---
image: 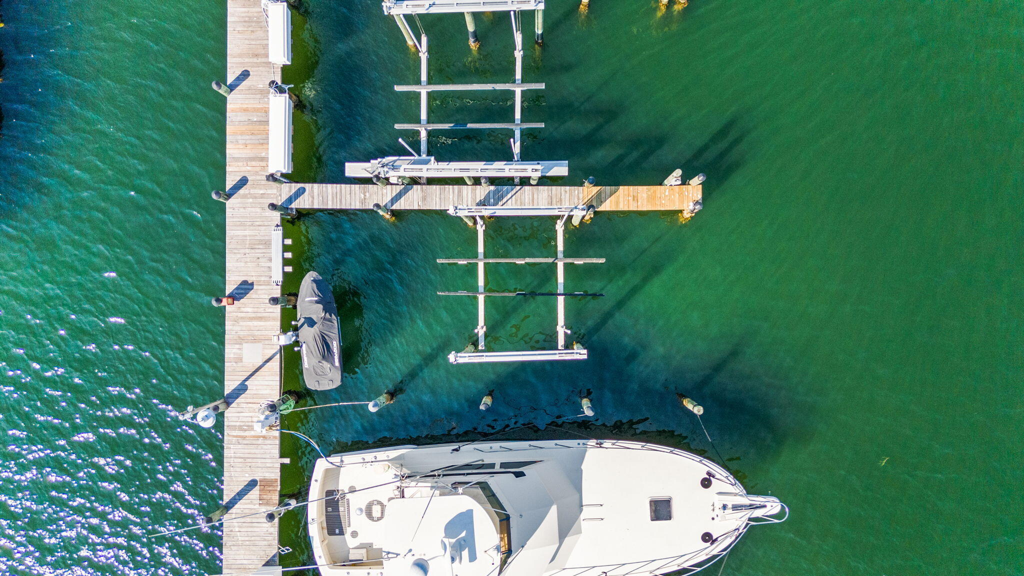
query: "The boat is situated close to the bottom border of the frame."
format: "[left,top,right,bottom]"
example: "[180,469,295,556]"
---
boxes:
[150,437,792,576]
